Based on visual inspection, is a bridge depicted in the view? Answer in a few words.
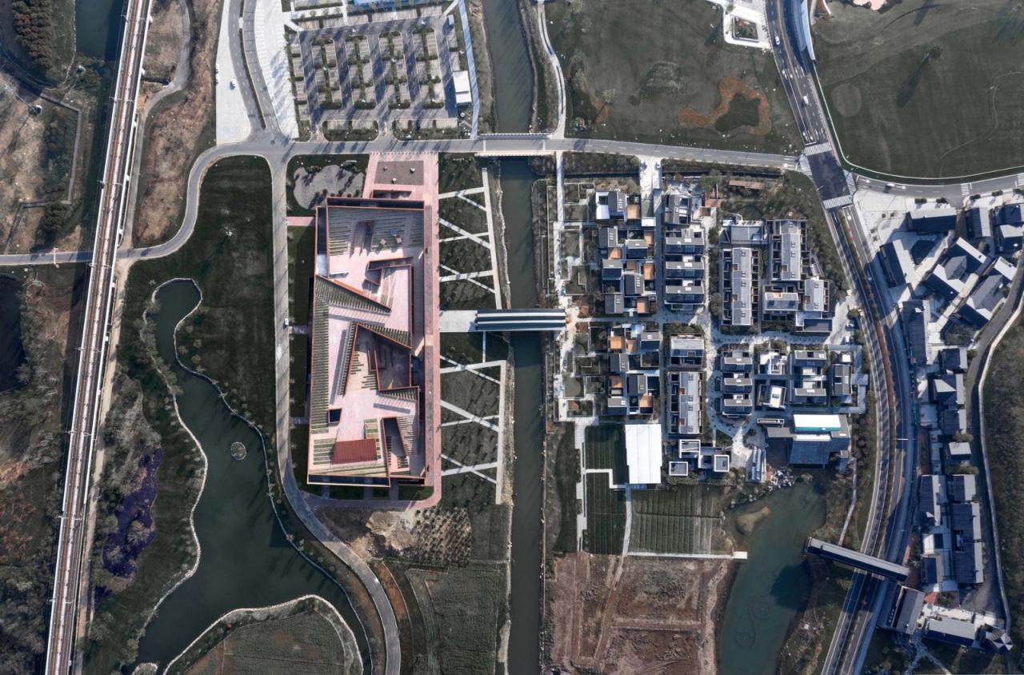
Yes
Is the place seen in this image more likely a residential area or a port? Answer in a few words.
residential area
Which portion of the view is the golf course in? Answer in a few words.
top right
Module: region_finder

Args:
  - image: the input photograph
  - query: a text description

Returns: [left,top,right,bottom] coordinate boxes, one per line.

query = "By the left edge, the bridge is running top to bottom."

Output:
[43,0,155,675]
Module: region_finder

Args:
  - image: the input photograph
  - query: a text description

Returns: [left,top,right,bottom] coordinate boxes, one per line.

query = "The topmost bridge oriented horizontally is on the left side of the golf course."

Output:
[477,132,553,157]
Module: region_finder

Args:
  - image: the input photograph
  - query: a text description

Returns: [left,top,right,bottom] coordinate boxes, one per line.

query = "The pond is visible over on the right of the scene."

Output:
[720,480,826,675]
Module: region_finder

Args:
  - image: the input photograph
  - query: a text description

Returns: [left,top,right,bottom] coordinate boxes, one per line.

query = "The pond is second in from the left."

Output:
[121,279,371,675]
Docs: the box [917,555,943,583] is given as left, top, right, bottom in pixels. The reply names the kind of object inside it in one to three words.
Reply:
house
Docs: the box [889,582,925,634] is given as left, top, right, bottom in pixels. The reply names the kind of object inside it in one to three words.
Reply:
house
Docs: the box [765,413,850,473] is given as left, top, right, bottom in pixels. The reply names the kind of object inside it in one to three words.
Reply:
building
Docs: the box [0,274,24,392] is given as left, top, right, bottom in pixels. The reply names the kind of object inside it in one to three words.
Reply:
pond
